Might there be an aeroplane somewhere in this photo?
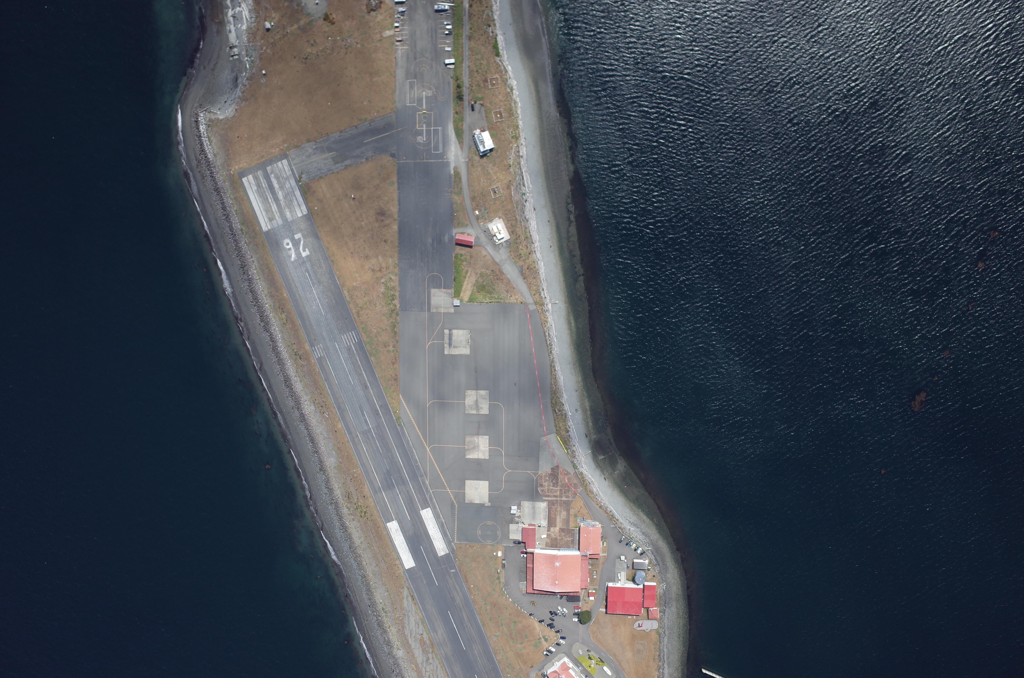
No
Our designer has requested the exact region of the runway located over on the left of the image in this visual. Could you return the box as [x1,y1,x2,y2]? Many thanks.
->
[238,150,504,678]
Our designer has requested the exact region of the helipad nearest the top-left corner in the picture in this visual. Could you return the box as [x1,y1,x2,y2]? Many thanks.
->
[431,289,454,313]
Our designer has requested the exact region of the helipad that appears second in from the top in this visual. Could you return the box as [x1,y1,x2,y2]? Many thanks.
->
[444,330,470,354]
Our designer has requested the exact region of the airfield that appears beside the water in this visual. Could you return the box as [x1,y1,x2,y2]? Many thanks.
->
[238,0,583,678]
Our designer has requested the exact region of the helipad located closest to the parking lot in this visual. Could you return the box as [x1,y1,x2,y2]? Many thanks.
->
[465,480,488,503]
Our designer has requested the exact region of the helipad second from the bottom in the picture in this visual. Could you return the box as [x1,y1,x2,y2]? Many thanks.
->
[465,435,489,459]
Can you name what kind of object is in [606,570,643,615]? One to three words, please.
building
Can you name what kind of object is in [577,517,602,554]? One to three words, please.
building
